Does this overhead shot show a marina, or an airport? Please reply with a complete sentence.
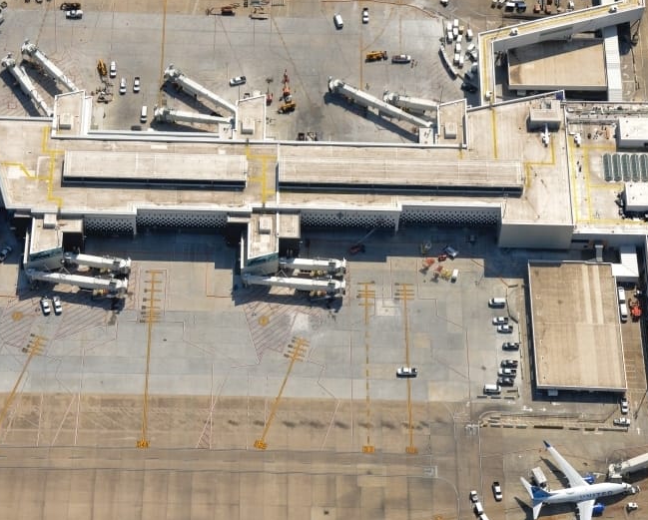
The area seen from above is an airport.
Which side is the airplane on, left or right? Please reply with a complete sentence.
The airplane is on the right side of the image.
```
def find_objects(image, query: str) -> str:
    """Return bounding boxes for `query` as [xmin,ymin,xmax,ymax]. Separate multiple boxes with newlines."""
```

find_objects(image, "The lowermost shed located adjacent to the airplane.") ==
[528,260,627,395]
